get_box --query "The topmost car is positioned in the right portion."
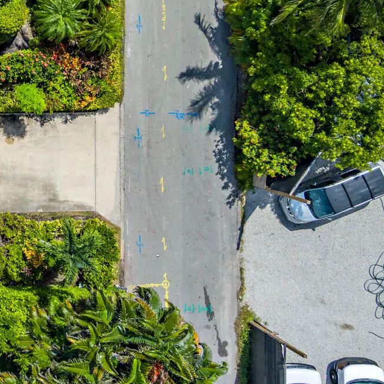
[275,171,382,231]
